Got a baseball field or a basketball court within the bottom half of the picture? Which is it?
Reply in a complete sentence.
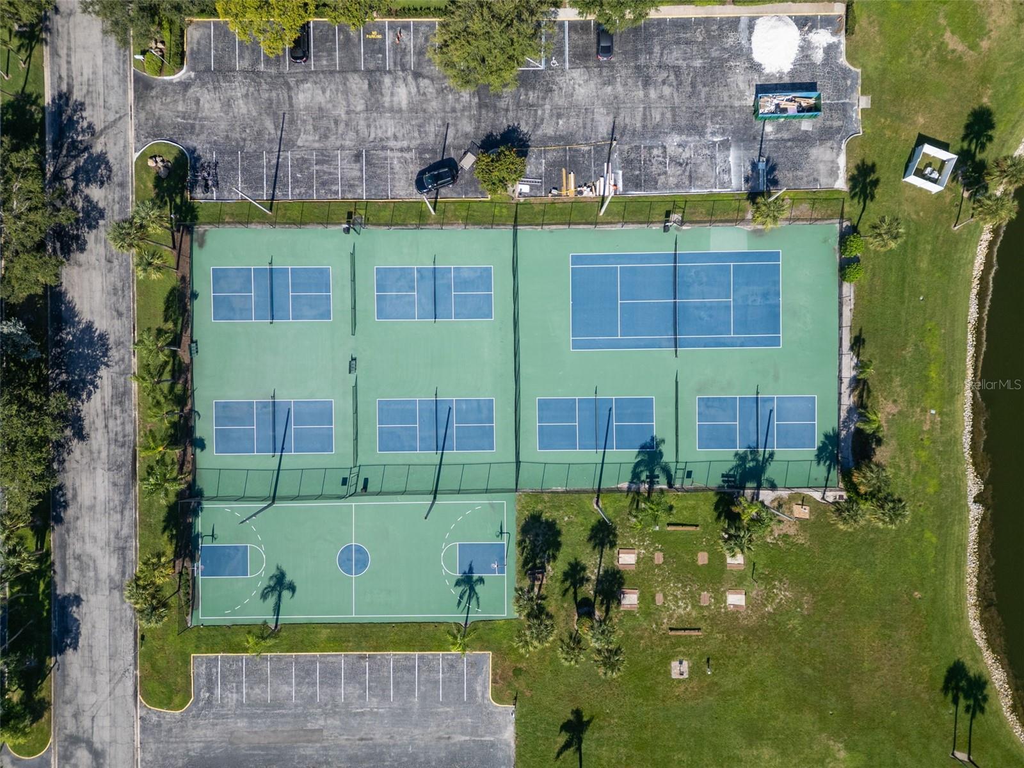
The feature located within the bottom half of the picture is a basketball court.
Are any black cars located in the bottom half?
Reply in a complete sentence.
No, the scene shows no black car in the bottom half.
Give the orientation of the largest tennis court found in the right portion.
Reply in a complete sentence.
In this picture, the largest tennis court found in the right portion is oriented horizontally.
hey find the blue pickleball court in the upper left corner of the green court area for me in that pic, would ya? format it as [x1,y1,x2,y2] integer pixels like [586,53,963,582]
[212,266,332,322]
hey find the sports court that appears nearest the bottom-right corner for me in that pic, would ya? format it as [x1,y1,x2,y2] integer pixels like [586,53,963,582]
[697,395,817,451]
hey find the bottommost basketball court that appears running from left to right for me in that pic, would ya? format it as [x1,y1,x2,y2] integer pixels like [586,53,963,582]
[191,492,516,629]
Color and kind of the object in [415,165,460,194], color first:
black car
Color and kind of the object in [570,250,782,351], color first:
blue tennis court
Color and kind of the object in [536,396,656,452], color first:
blue sports court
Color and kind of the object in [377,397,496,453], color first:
blue sports court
